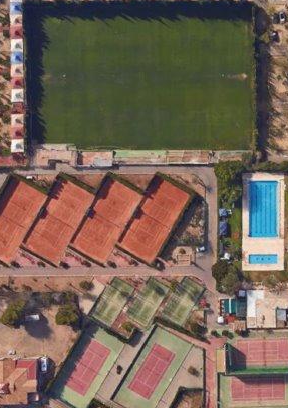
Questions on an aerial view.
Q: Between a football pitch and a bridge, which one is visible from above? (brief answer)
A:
football pitch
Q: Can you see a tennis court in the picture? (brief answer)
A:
Yes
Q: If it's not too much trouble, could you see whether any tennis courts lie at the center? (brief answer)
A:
Yes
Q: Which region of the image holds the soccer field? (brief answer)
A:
top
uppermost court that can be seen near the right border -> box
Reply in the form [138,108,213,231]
[226,331,288,373]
